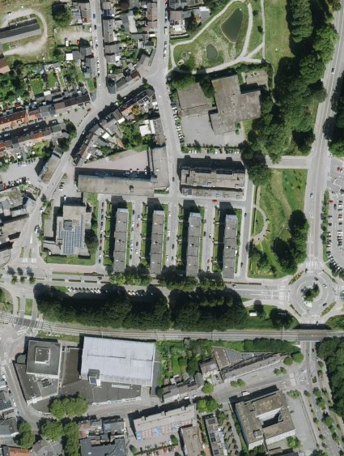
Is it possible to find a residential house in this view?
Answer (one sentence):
Yes, a residential house can be made out from above.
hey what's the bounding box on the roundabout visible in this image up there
[290,273,331,313]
